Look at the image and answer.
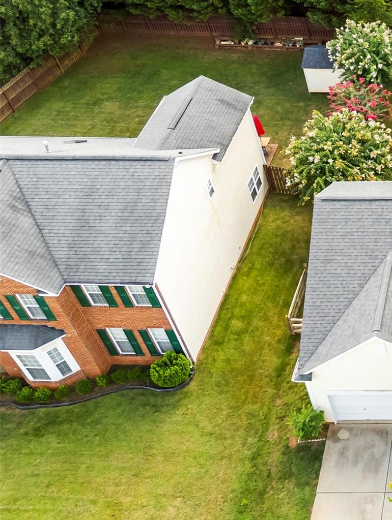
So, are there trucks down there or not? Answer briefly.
No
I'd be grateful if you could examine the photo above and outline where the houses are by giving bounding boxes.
[0,76,271,387]
[290,181,392,424]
